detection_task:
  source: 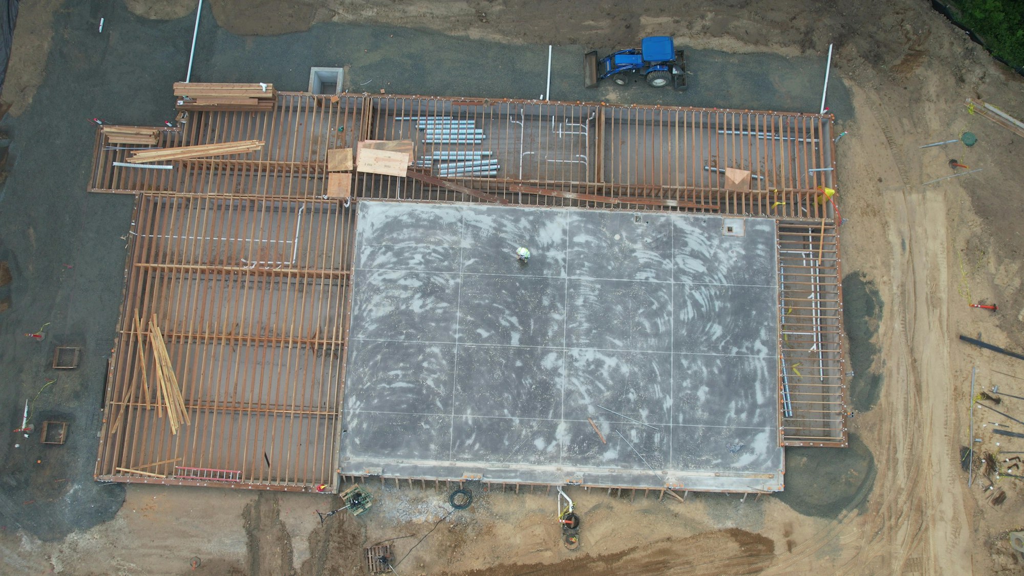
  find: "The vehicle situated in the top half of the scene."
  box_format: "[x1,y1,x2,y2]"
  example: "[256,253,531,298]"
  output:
[584,38,687,90]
